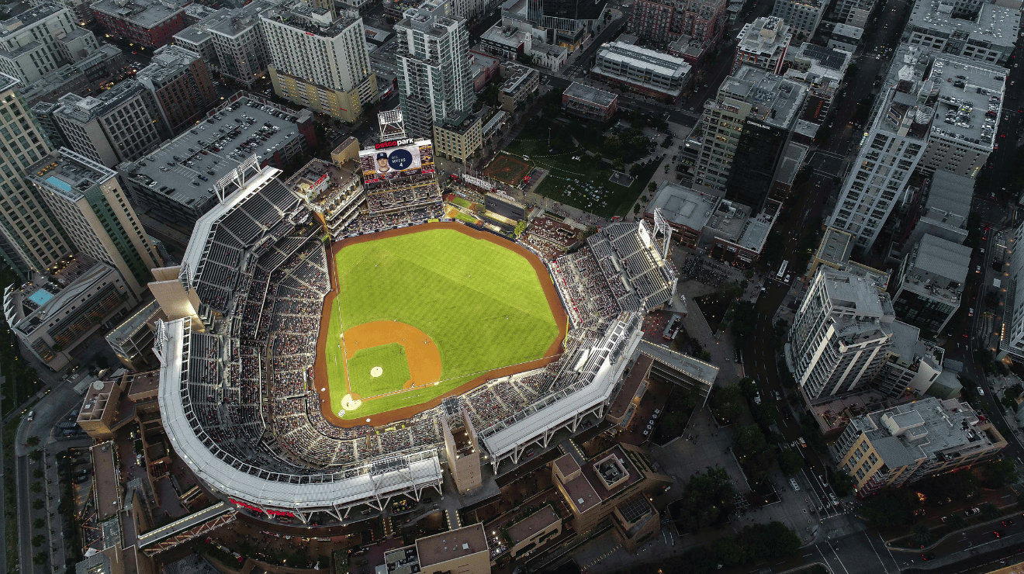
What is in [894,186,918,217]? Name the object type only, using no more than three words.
house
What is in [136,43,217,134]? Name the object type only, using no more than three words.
building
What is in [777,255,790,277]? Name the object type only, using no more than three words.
vehicle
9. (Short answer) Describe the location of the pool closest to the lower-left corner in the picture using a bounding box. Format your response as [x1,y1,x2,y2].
[29,289,54,305]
